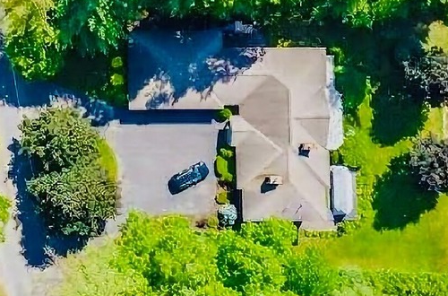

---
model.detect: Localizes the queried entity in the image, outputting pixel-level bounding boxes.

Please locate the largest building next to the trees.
[127,28,337,231]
